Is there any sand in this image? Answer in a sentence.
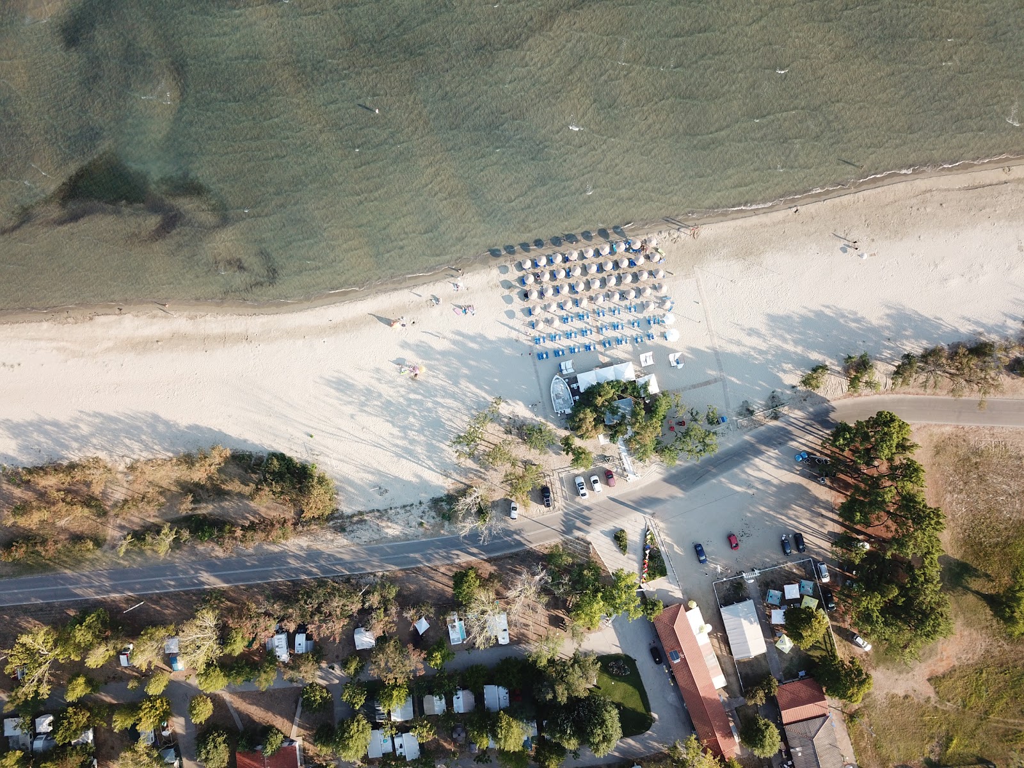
Yes, sand shows up in the scene.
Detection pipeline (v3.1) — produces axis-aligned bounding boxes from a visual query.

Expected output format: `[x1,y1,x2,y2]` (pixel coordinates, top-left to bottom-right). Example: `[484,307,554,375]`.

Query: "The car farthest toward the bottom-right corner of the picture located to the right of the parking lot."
[850,632,872,651]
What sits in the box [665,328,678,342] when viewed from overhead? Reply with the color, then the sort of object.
white umbrella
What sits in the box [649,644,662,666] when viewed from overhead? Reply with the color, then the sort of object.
black vehicle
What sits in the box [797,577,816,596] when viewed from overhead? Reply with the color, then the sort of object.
blue gazebo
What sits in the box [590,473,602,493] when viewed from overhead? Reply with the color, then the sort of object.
white vehicle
